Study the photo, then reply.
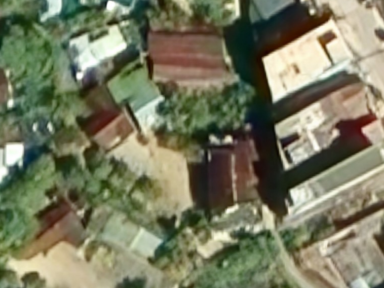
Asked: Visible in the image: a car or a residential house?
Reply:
residential house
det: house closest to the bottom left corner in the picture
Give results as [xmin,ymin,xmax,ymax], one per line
[23,198,85,259]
